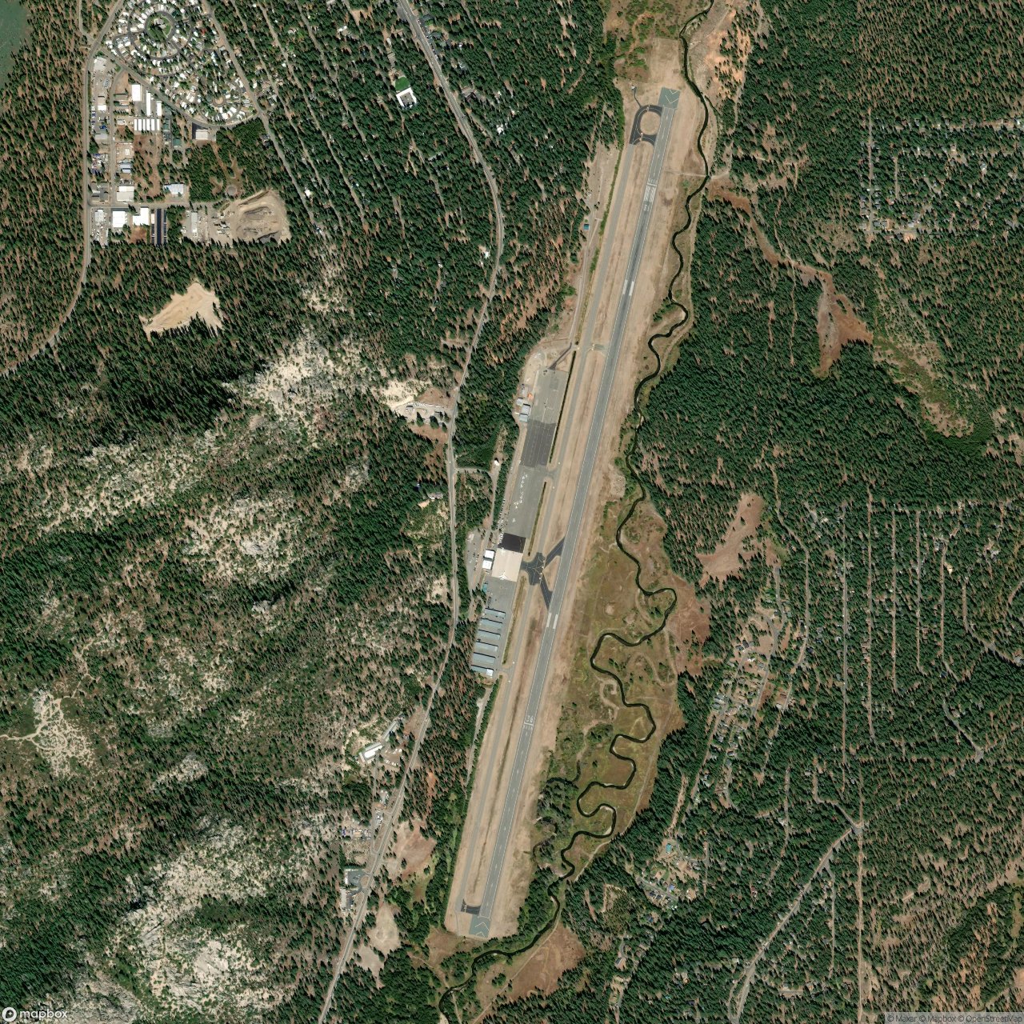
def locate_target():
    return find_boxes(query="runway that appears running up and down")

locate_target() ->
[479,107,674,918]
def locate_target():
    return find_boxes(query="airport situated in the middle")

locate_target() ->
[455,88,681,937]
